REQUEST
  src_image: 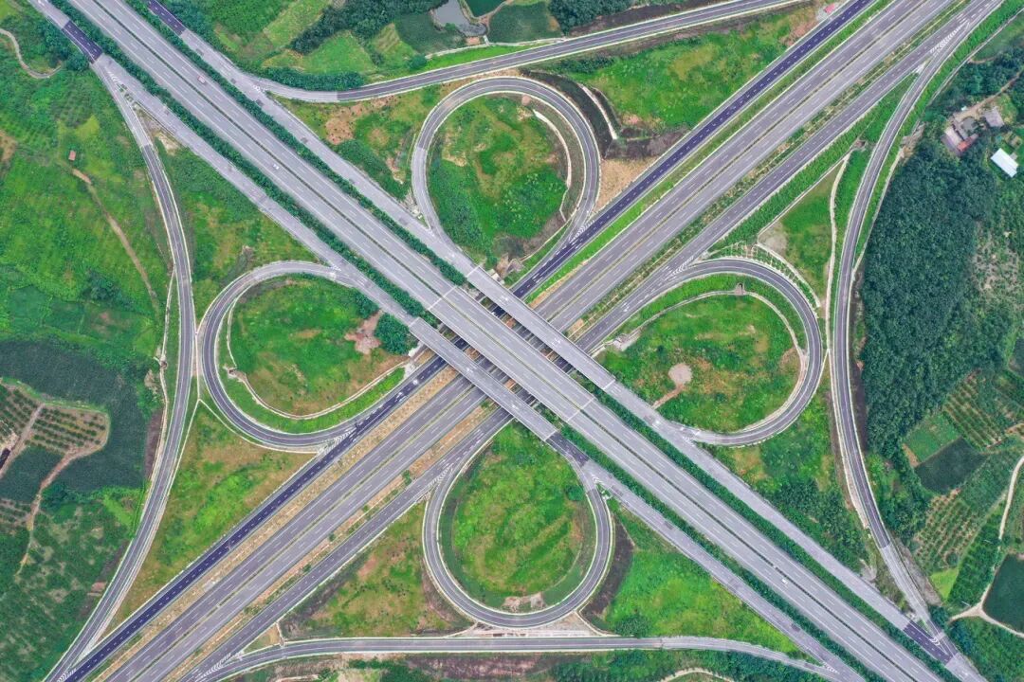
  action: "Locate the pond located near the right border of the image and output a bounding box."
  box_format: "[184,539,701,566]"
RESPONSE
[984,553,1024,632]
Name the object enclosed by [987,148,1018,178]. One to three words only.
shed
